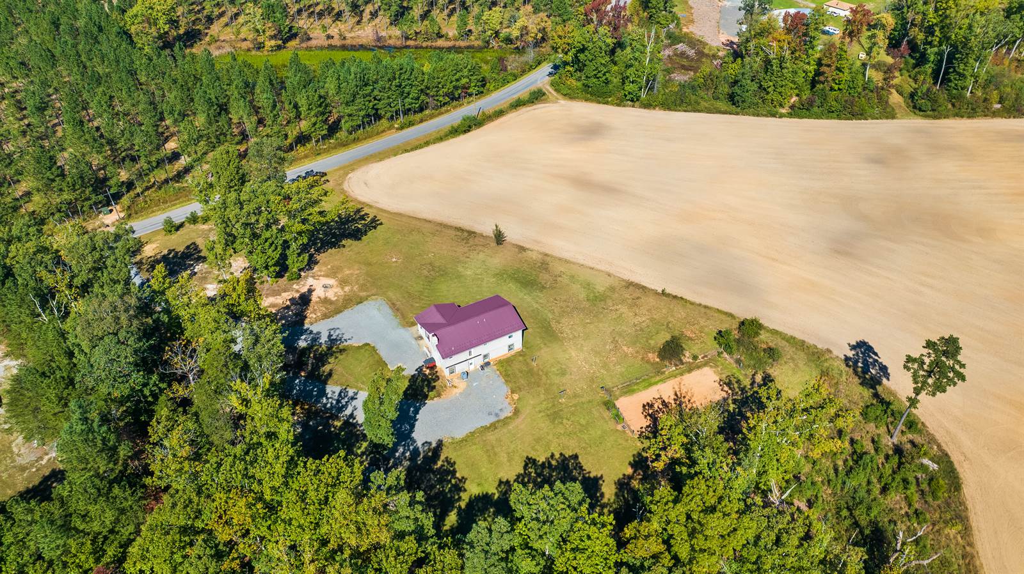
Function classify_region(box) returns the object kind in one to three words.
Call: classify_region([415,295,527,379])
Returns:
house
